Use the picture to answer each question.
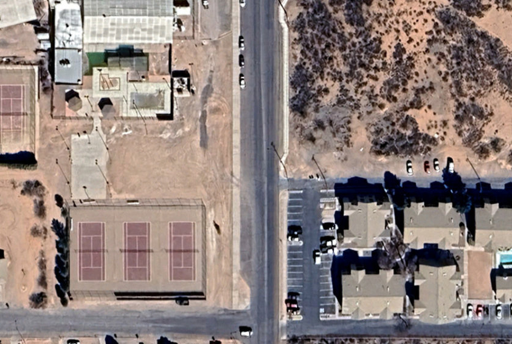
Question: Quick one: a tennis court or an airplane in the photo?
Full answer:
Of the two, only a tennis court appears.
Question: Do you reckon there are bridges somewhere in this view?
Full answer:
No, there's no bridge here.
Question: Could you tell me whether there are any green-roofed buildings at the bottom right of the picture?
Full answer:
No, I see no green-roofed building at the bottom right of the picture.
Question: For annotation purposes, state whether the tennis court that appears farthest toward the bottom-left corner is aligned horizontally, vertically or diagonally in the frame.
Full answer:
The tennis court that appears farthest toward the bottom-left corner runs vertically in the image.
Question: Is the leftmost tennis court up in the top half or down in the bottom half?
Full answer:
It is in the top half that the leftmost tennis court appears.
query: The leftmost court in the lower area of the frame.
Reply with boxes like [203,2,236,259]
[75,222,106,282]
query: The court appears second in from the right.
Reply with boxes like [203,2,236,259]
[166,222,200,282]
